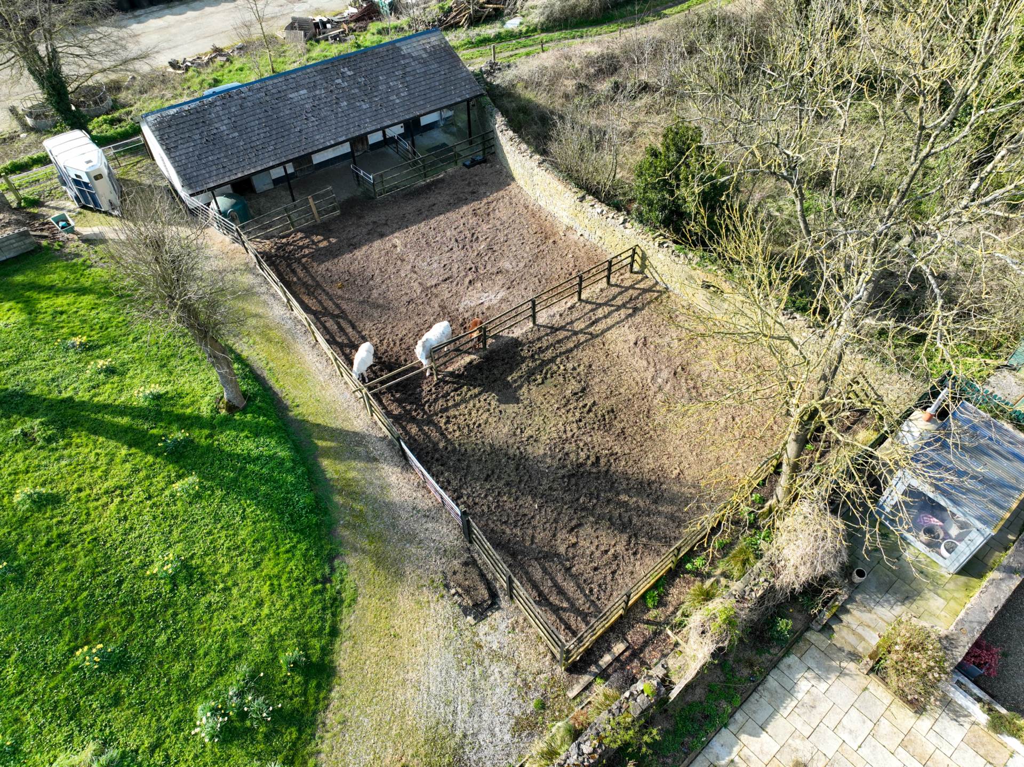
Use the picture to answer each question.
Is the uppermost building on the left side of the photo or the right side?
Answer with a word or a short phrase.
left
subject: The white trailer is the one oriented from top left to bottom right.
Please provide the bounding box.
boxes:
[46,130,129,219]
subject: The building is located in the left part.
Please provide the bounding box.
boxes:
[129,22,482,236]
